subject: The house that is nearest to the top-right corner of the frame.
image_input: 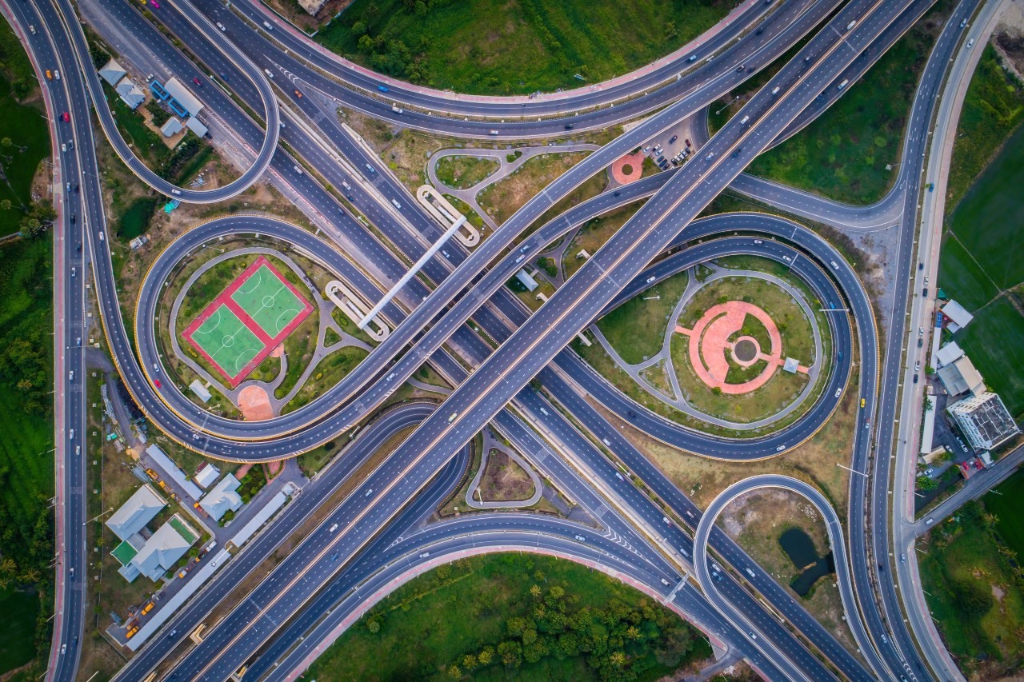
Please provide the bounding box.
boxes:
[937,299,973,333]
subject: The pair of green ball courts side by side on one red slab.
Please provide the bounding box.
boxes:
[182,256,314,387]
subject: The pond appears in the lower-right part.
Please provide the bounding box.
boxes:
[780,528,834,597]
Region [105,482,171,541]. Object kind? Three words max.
building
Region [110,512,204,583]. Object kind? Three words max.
building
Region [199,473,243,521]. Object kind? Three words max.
house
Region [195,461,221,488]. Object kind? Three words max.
house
